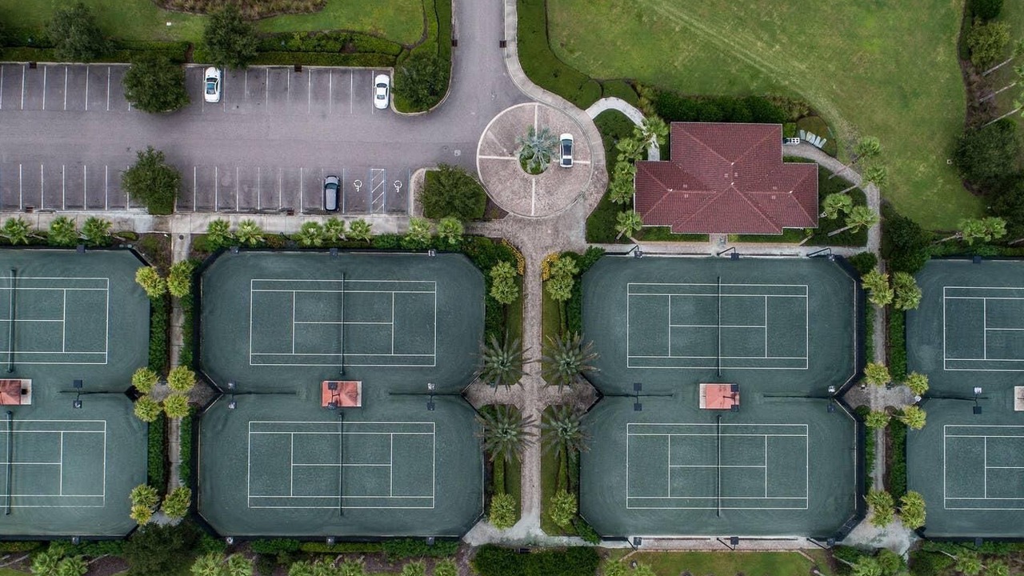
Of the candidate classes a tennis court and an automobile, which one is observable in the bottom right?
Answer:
tennis court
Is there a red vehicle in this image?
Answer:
No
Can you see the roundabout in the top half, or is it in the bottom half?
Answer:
top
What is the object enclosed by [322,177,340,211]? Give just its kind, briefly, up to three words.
car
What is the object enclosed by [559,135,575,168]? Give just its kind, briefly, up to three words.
car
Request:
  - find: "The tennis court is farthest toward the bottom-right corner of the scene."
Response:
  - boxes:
[908,397,1024,536]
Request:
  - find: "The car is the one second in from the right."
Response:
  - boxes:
[373,76,390,109]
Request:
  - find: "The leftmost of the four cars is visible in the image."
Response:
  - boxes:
[203,68,222,103]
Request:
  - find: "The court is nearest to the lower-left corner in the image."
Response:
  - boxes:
[0,392,147,536]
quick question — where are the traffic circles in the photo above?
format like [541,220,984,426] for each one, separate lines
[478,104,593,218]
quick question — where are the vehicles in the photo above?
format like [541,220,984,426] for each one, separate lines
[373,76,390,109]
[322,177,340,211]
[203,68,222,103]
[559,135,575,168]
